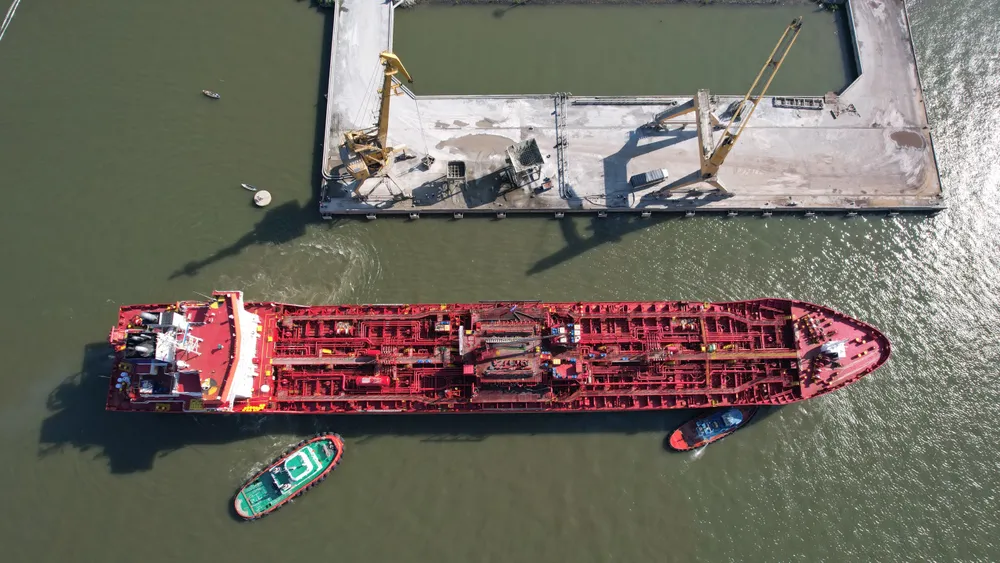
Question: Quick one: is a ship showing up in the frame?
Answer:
Yes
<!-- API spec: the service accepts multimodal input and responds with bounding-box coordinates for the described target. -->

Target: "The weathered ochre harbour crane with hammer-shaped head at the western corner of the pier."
[340,50,428,192]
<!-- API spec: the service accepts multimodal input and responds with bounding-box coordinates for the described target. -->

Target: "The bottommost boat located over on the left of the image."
[235,433,346,522]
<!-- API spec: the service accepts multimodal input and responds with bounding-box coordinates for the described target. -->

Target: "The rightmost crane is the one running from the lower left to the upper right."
[646,8,809,192]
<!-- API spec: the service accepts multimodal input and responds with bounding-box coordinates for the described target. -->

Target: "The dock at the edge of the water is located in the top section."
[319,0,946,222]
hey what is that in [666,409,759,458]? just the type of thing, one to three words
boat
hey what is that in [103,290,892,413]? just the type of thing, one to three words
ship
